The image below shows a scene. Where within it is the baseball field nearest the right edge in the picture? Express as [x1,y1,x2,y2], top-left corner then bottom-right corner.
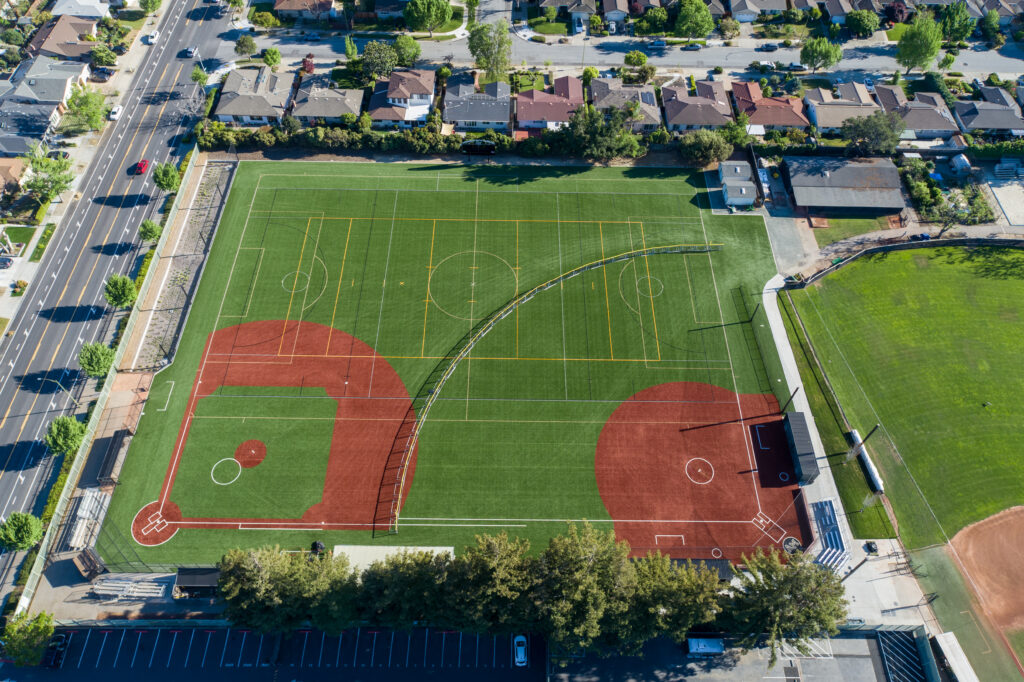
[786,242,1024,682]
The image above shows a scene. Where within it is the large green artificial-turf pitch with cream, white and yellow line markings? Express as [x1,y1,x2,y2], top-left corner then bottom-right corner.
[99,161,827,580]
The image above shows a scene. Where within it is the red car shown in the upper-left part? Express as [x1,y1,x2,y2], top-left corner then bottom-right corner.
[136,161,149,174]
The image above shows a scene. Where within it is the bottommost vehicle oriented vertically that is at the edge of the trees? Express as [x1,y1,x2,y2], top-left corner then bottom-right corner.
[513,634,527,668]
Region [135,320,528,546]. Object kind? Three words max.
baseball field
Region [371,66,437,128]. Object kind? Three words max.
house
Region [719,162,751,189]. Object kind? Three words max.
shed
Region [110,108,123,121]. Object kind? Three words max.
vehicle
